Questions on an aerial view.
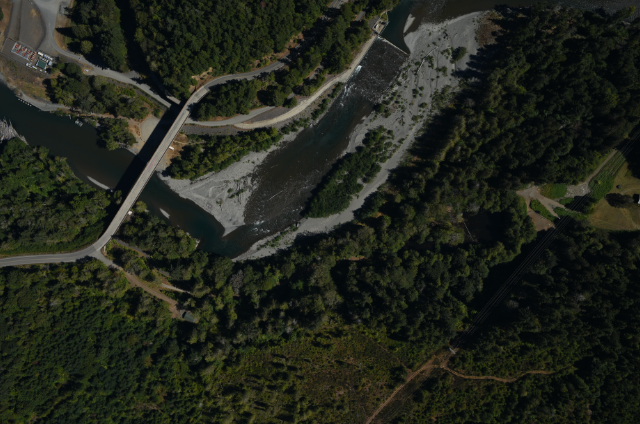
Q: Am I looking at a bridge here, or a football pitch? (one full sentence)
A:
Visible in the photo is a bridge.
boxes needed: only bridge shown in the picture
[93,84,208,250]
